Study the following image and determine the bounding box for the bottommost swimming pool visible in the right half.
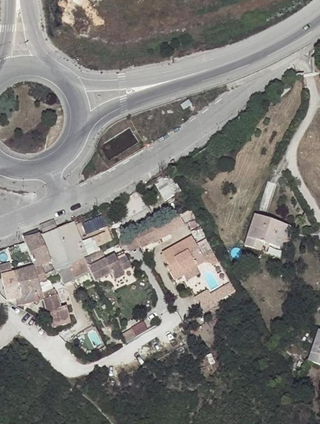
[204,270,220,292]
